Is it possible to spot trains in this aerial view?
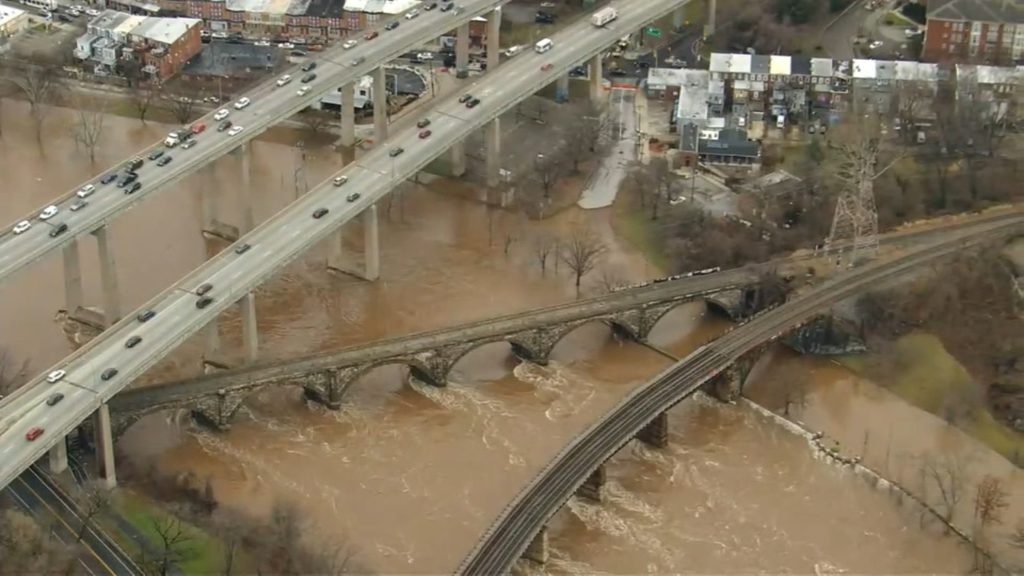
No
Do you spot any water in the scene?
Yes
